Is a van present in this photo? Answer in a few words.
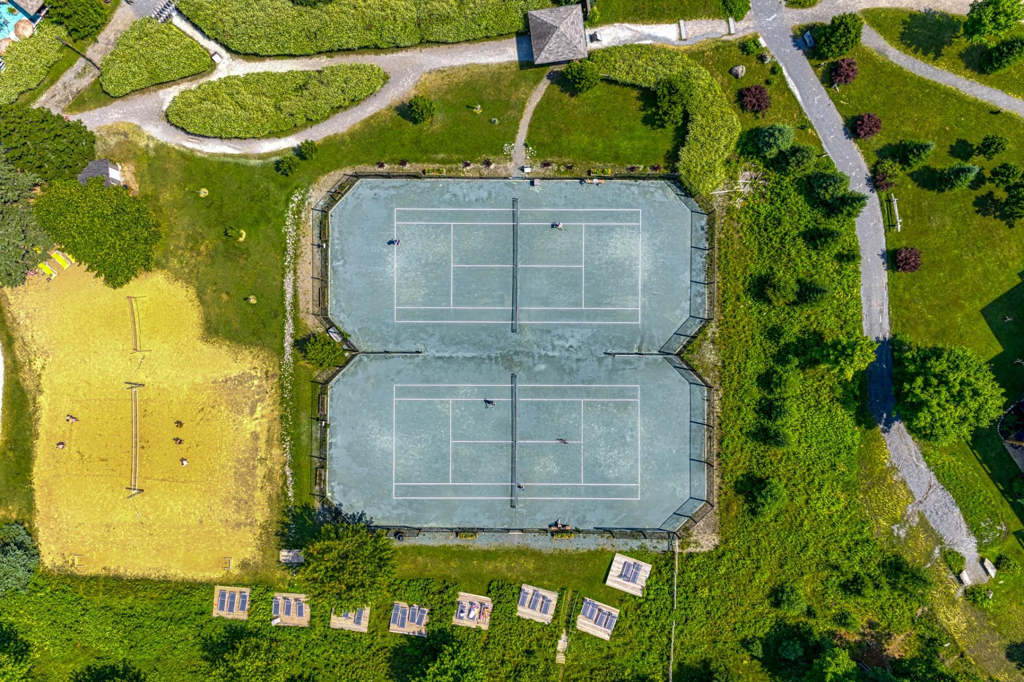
No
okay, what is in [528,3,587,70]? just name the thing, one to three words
building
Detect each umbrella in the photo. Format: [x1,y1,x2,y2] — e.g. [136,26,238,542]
[0,36,17,59]
[14,18,39,41]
